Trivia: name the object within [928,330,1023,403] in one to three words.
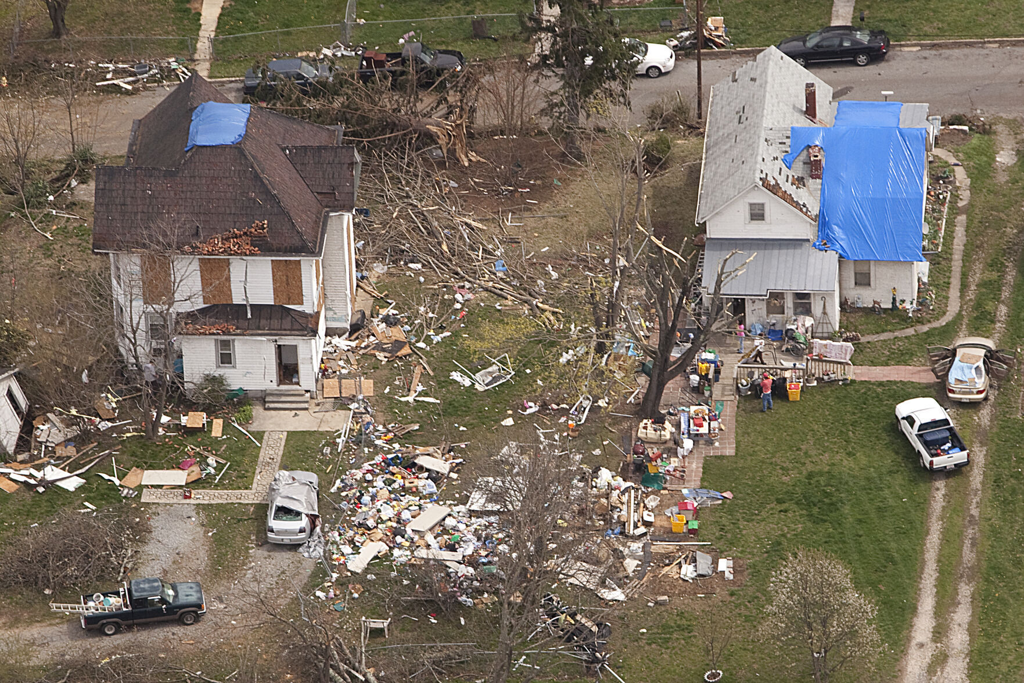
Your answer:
car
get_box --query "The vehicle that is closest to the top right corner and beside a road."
[777,23,894,67]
